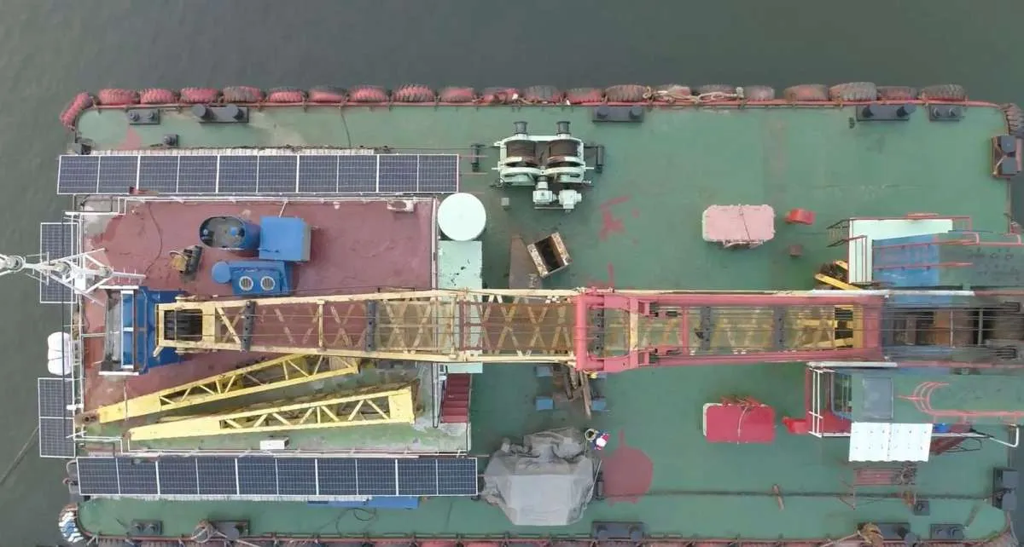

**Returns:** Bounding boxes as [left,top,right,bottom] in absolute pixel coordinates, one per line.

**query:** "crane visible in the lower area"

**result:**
[151,213,1024,463]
